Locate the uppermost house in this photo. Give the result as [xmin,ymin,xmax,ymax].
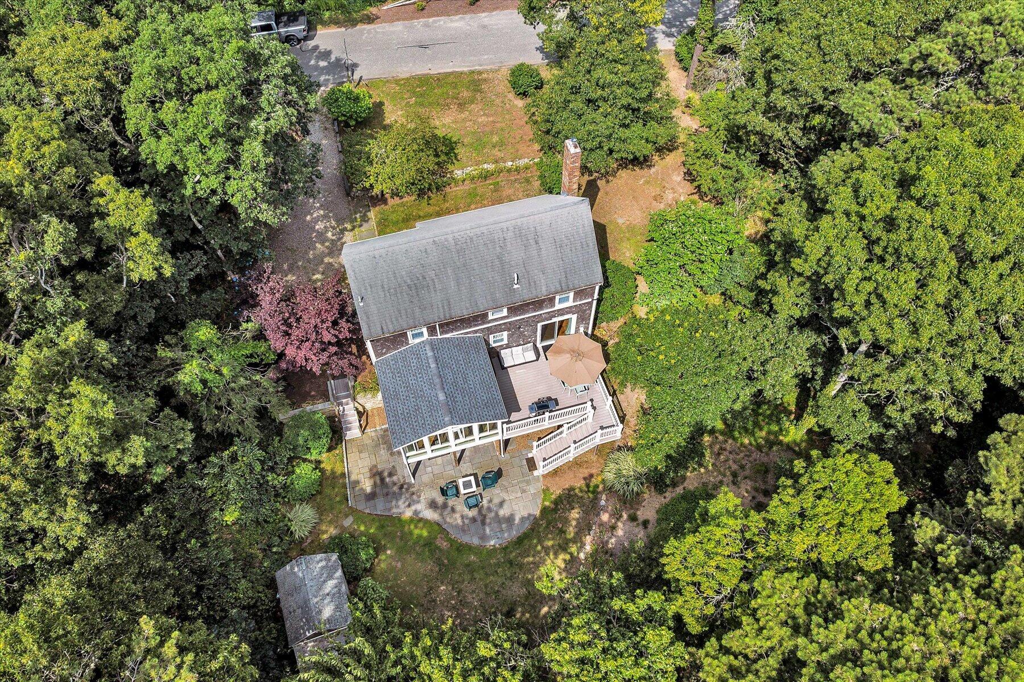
[342,135,605,363]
